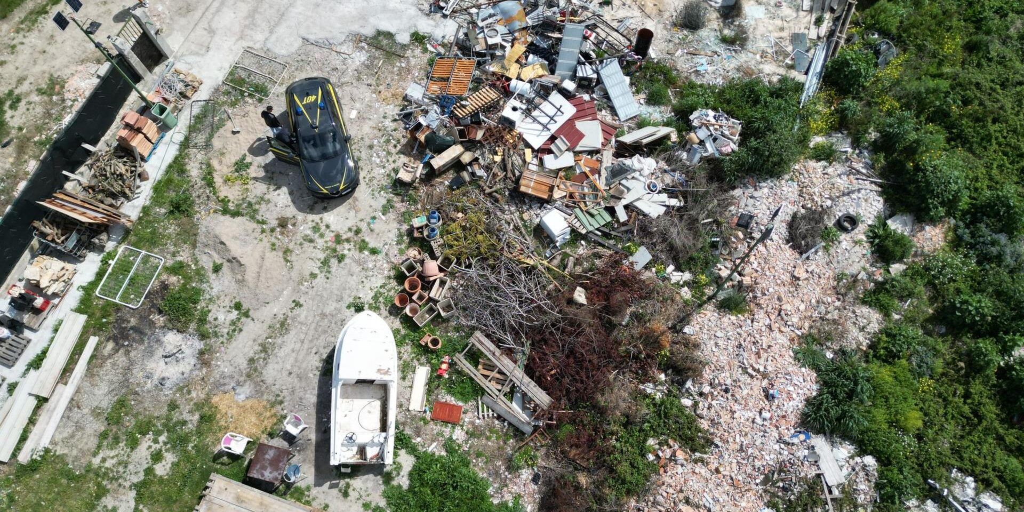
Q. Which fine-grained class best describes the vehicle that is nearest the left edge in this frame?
car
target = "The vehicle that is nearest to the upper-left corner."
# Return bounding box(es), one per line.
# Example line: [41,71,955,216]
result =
[268,75,361,199]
